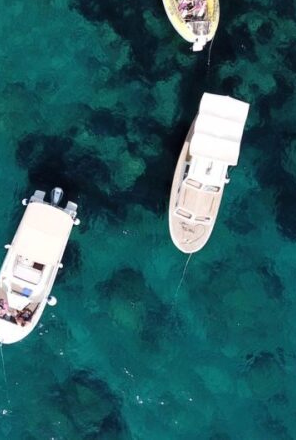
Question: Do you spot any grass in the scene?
No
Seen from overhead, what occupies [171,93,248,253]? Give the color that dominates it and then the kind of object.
white boat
